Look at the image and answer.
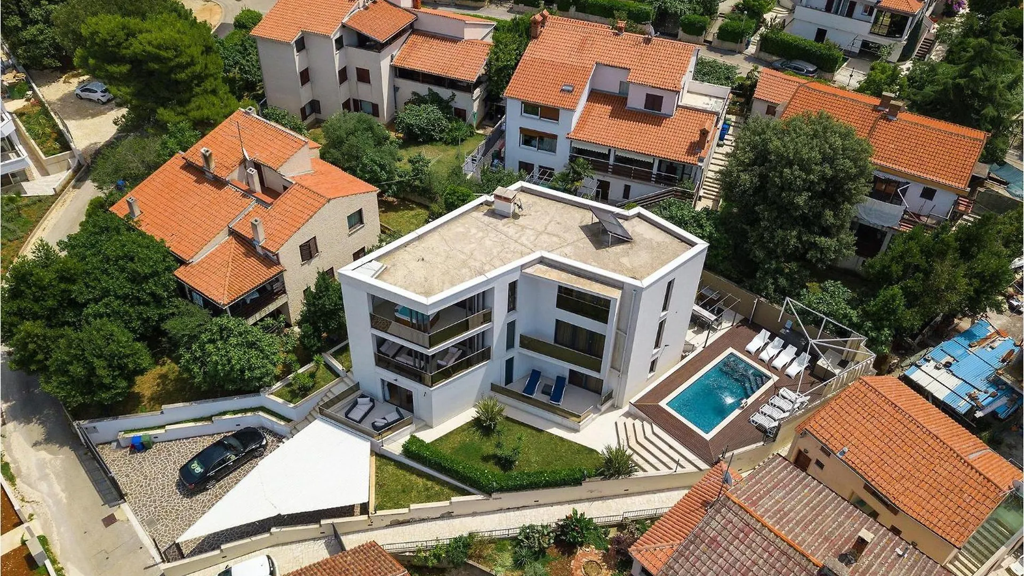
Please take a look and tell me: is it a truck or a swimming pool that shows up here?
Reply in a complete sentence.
I can see a swimming pool in this picture.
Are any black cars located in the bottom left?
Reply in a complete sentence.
Yes, I can see a black car in the bottom left.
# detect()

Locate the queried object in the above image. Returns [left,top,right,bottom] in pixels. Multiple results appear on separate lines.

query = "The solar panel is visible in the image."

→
[593,207,633,246]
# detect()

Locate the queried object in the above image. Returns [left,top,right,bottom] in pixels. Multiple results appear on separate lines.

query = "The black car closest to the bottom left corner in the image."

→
[177,428,267,486]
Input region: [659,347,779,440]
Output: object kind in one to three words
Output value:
swimming pool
